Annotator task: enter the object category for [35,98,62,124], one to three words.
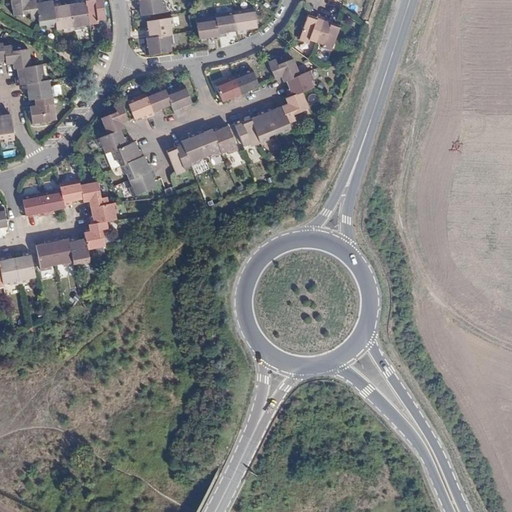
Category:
house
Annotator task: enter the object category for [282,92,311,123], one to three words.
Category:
house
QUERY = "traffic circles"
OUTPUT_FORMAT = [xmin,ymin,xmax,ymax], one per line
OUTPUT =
[232,227,384,378]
